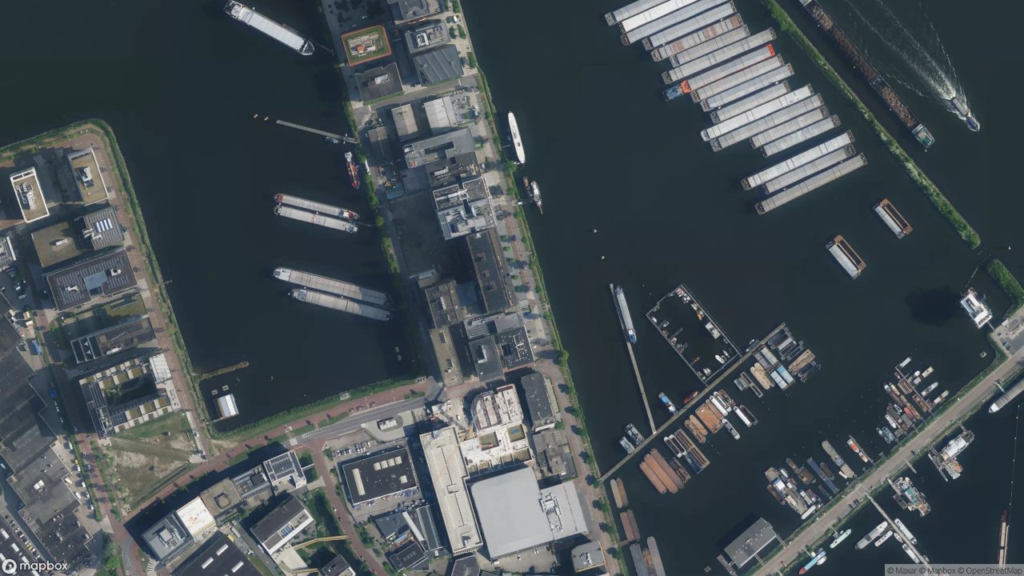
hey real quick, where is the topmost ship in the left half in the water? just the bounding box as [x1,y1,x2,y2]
[224,0,314,54]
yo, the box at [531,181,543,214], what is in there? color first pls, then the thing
white ship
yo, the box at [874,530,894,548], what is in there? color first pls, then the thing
white boat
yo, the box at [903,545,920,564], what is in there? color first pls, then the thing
white boat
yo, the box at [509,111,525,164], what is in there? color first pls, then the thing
white ship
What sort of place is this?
port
